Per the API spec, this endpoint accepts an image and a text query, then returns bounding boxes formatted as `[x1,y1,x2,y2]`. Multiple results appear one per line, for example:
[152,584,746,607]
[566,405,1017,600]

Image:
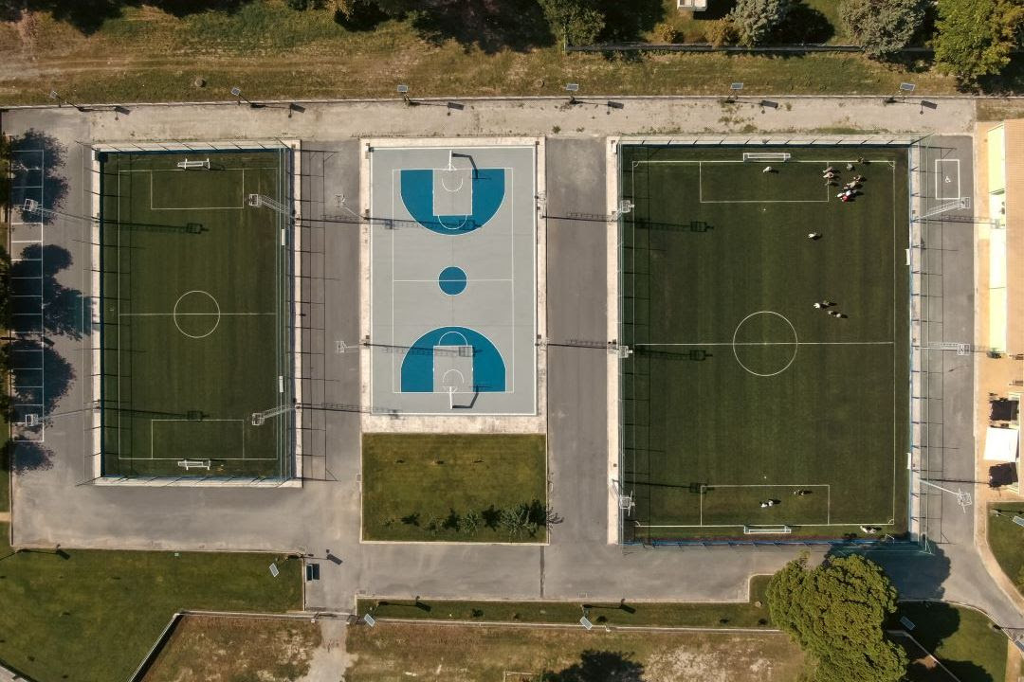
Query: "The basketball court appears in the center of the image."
[360,138,545,434]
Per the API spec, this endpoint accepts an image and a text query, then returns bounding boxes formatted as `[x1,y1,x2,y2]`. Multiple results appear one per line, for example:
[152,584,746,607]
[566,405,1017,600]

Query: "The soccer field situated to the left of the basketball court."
[92,142,301,486]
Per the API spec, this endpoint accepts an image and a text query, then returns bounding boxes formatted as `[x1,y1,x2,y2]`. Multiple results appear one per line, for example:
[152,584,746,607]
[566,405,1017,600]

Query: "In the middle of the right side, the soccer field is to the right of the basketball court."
[607,134,921,545]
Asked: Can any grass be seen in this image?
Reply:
Yes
